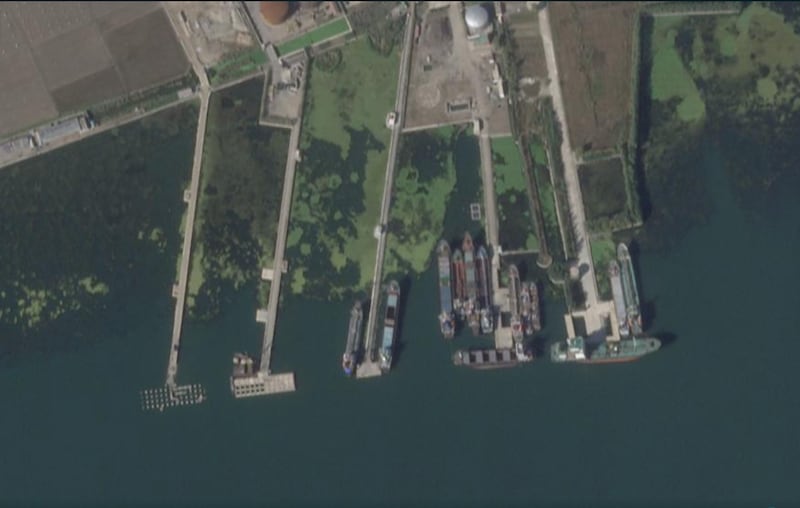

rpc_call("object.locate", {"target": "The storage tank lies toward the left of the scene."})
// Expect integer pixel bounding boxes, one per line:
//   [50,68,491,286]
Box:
[259,0,290,28]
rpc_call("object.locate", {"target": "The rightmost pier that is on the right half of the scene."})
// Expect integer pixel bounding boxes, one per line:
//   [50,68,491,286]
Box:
[565,300,619,338]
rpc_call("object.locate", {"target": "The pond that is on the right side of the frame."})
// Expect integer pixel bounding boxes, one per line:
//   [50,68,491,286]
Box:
[579,157,628,221]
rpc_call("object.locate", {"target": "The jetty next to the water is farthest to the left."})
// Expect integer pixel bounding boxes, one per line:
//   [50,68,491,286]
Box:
[168,90,209,386]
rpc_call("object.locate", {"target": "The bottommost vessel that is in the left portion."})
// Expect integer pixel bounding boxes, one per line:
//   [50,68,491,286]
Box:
[234,351,253,377]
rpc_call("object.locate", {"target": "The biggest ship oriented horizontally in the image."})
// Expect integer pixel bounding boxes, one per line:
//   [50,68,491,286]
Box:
[549,332,662,361]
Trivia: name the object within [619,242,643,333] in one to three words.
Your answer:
ship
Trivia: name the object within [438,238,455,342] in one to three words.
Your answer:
ship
